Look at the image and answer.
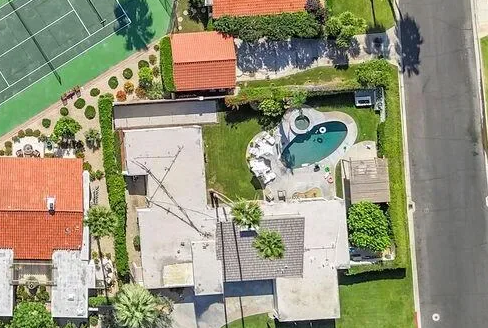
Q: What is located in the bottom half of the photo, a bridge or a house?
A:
house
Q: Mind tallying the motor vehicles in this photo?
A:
0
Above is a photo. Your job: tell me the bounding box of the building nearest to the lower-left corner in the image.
[0,157,98,319]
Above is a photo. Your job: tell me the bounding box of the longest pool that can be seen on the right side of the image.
[280,119,350,172]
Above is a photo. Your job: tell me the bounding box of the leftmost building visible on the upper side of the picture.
[170,32,237,91]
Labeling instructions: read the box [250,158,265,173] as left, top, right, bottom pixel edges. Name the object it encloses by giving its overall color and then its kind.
white umbrella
